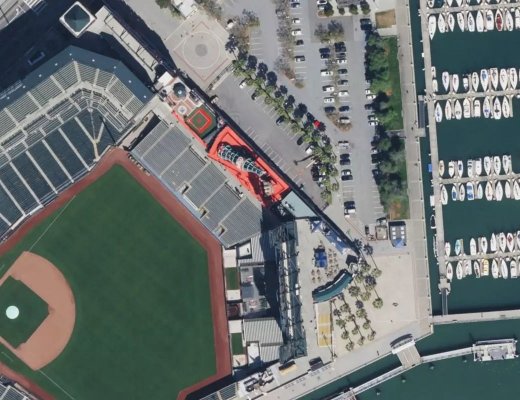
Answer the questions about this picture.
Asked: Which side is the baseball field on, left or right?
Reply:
left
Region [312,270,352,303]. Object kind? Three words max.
building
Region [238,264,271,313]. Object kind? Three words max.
building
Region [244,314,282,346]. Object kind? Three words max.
shed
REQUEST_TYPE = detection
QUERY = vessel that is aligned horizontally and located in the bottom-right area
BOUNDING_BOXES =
[472,337,518,362]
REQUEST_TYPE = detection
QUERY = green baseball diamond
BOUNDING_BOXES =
[0,147,231,400]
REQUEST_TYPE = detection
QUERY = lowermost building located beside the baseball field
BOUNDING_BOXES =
[194,361,282,400]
